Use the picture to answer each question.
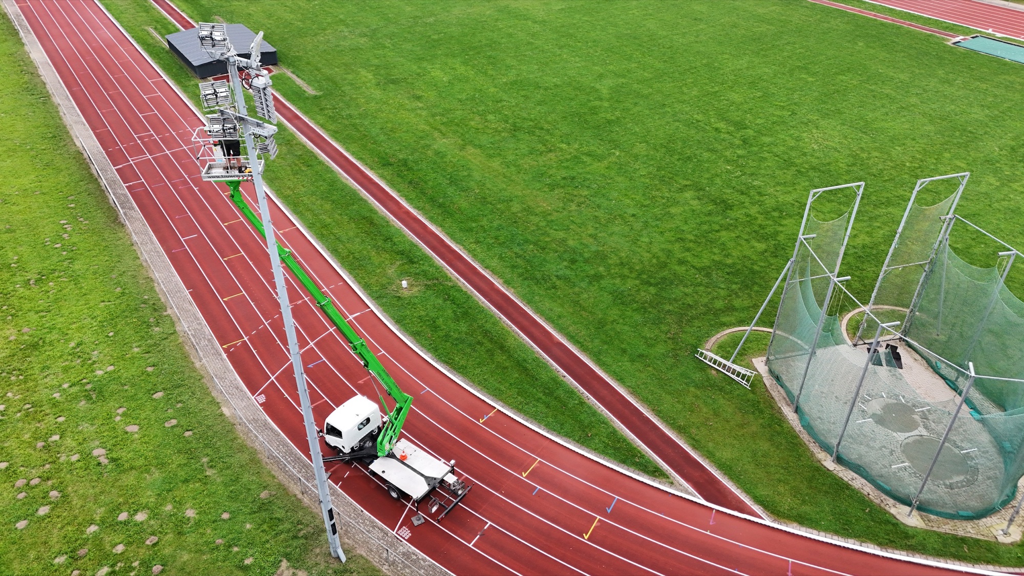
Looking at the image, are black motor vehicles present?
No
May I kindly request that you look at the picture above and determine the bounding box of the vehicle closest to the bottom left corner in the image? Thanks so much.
[191,127,475,526]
